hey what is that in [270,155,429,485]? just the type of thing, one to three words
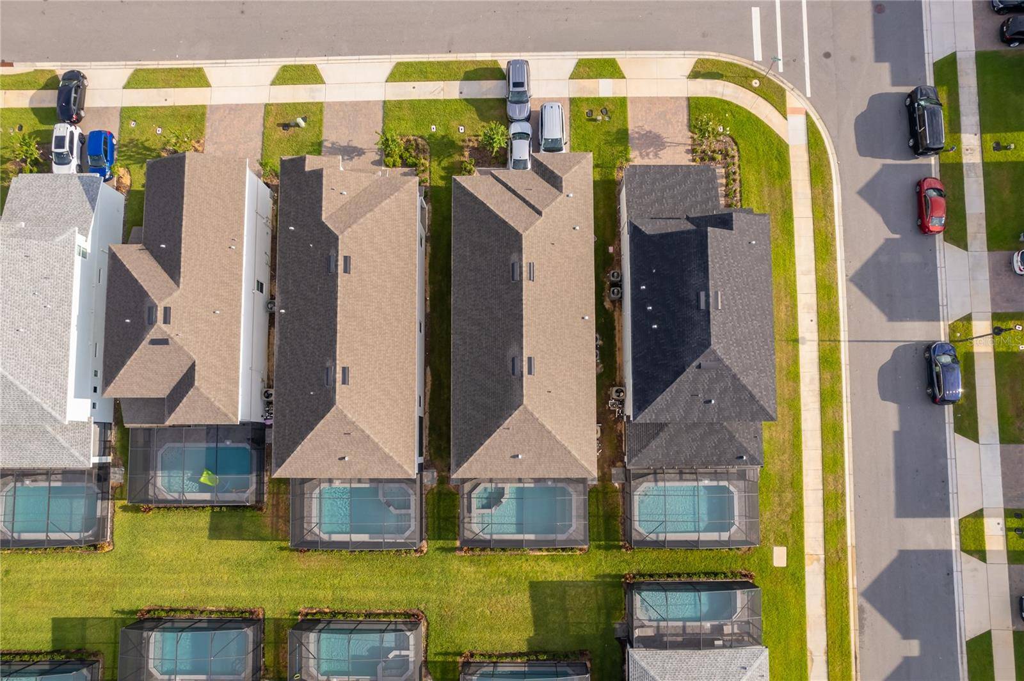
house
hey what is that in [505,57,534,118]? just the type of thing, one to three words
car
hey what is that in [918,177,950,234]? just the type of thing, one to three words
car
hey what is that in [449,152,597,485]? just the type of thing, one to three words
house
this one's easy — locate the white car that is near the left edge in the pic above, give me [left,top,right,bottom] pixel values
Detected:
[47,121,81,172]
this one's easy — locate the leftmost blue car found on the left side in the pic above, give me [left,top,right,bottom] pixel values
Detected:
[82,127,113,180]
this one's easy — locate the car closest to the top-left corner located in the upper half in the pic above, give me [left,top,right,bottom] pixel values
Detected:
[53,70,87,125]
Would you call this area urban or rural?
urban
